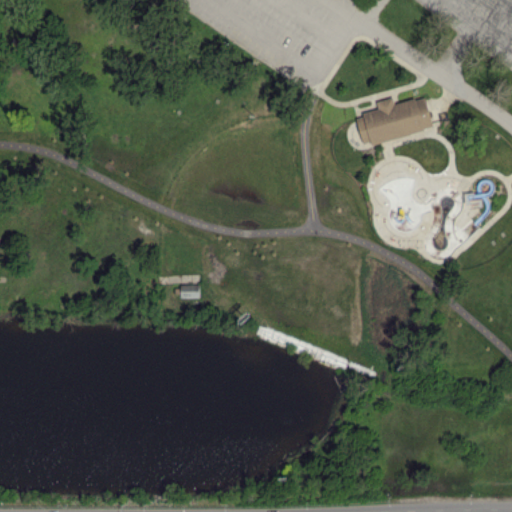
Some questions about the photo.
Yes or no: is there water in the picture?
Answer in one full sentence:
Yes, water shows up in the scene.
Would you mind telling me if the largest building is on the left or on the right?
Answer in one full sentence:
The largest building is on the right side of the image.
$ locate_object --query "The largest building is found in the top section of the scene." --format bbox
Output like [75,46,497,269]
[356,96,434,146]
